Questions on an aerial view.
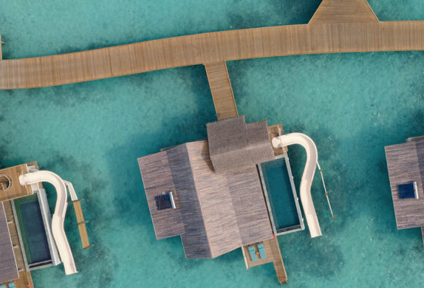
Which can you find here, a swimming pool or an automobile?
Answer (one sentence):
Of the two, only a swimming pool appears.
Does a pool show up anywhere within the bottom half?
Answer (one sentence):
Yes, within the bottom half there is a pool.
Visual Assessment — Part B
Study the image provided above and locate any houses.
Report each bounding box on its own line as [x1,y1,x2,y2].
[384,135,424,246]
[137,114,290,282]
[0,158,61,288]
